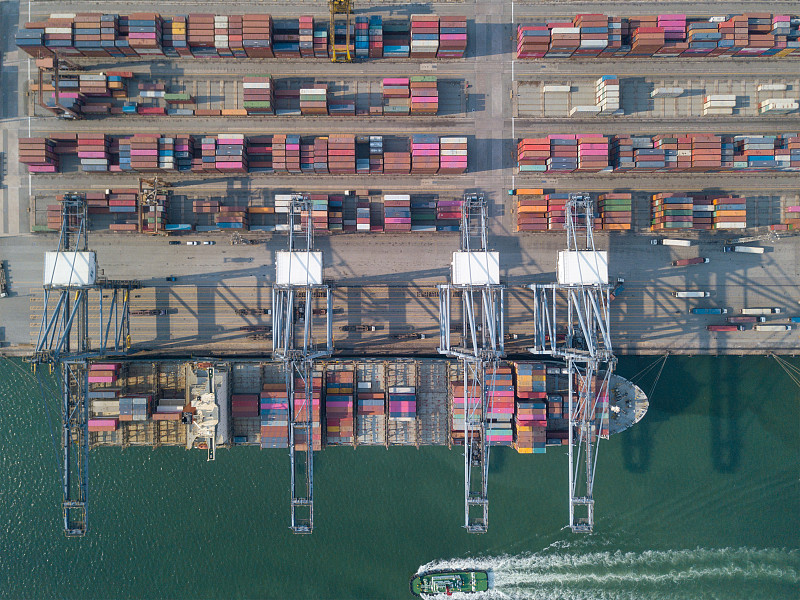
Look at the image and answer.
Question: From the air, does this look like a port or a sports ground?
port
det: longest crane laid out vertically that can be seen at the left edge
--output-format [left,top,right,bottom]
[22,189,160,537]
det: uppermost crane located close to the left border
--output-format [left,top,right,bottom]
[38,43,91,120]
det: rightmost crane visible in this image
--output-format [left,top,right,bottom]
[517,188,619,537]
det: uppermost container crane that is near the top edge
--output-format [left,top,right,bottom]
[323,0,354,62]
